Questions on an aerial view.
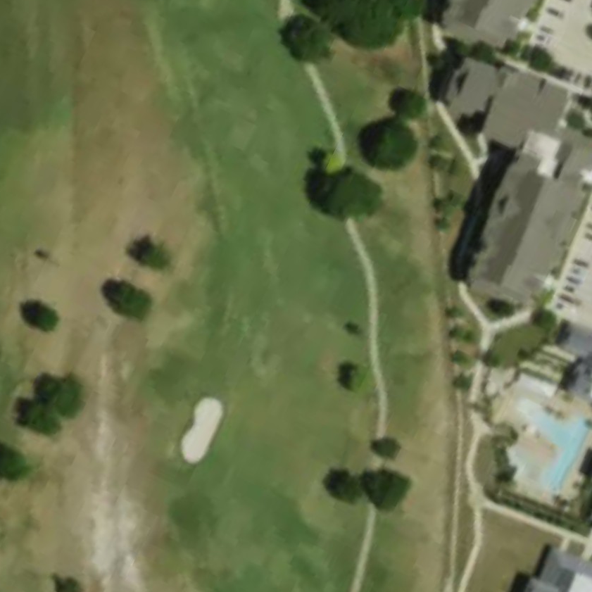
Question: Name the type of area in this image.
golf course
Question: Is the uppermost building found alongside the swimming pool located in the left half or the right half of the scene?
right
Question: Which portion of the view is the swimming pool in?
bottom right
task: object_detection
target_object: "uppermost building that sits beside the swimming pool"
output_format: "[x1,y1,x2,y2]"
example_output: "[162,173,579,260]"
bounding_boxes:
[446,58,592,310]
